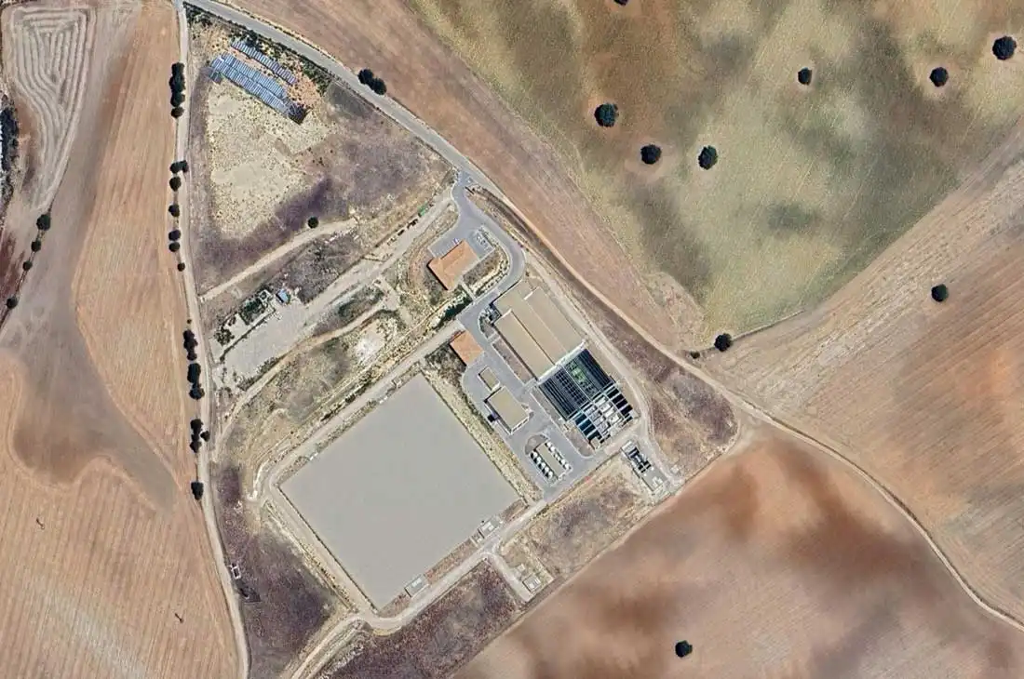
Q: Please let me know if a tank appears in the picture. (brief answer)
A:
Yes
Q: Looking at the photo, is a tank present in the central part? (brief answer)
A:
Yes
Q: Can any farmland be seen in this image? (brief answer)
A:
Yes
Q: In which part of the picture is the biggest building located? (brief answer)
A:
center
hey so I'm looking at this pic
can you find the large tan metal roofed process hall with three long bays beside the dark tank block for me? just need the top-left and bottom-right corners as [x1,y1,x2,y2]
[493,280,584,379]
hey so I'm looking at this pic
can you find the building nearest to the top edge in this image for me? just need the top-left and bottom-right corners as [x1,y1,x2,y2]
[426,240,480,288]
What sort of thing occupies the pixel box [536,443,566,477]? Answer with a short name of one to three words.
building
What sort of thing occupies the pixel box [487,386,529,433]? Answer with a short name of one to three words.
building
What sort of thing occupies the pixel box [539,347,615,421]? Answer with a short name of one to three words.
storage tank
